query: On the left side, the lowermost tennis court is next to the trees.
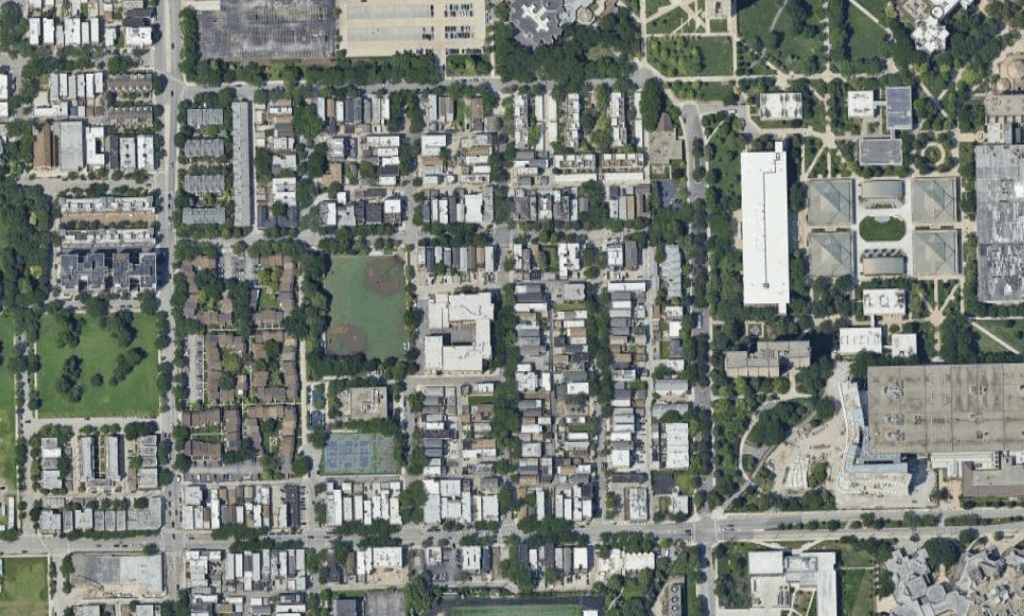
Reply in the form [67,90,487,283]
[324,433,396,475]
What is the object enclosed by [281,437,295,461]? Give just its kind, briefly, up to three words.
house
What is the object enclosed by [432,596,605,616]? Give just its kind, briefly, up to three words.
running track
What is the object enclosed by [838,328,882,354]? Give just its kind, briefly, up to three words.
building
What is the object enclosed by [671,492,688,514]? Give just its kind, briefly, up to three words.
house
